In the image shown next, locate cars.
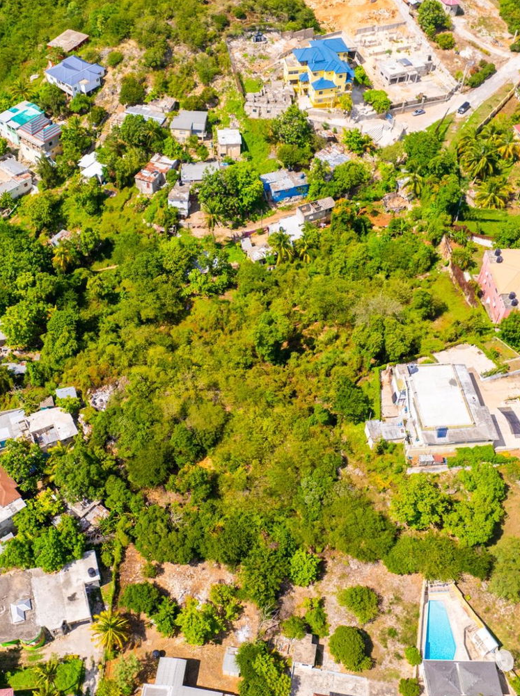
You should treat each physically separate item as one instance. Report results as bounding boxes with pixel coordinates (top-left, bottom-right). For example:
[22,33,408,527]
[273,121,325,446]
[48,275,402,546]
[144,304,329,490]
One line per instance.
[412,108,426,115]
[458,100,470,112]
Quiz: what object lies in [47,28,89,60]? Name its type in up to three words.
house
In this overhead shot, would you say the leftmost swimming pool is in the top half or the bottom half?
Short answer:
bottom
